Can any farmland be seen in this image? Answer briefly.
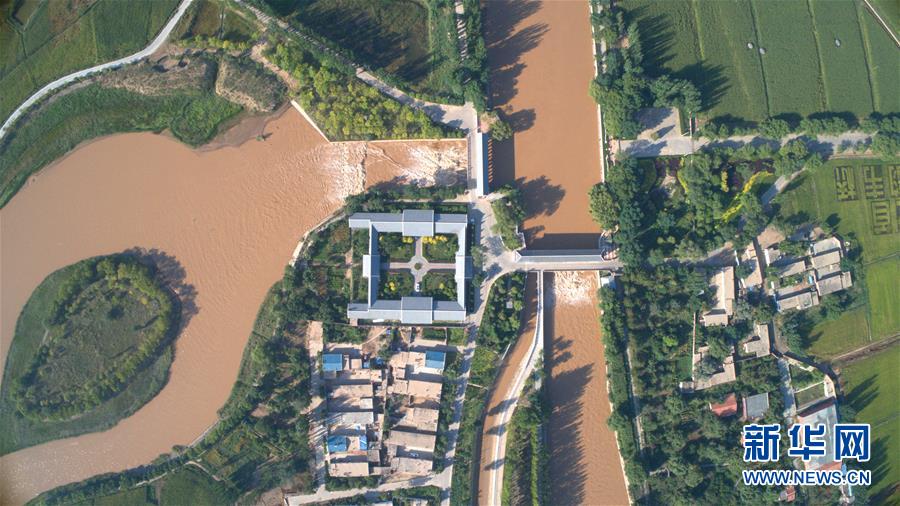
Yes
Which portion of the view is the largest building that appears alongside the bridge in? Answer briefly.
center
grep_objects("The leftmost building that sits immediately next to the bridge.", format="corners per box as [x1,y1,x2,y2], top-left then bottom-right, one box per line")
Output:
[348,210,473,323]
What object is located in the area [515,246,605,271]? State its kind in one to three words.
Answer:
bridge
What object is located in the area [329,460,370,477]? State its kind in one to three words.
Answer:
house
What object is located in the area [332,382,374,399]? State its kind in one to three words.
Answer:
house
